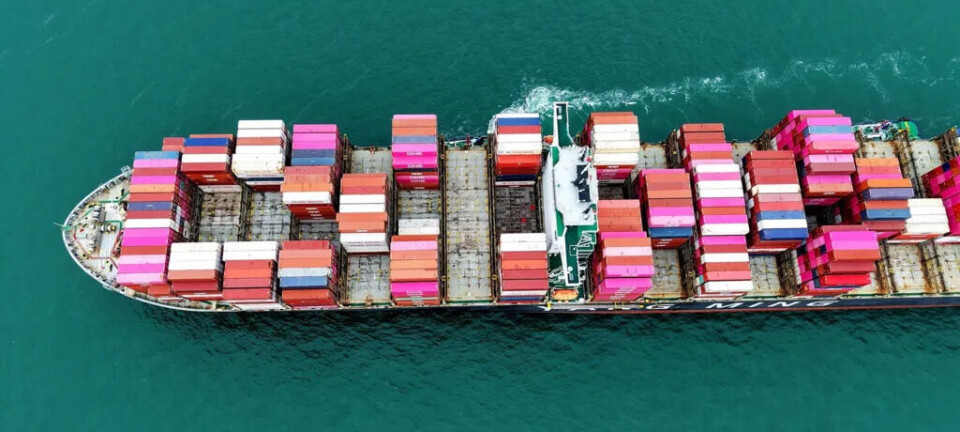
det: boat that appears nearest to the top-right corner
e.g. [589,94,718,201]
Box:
[851,119,921,140]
